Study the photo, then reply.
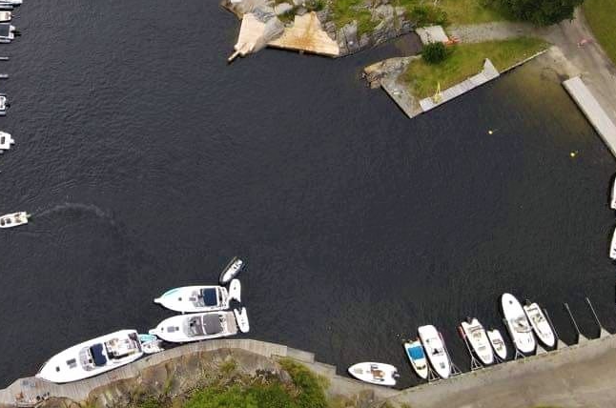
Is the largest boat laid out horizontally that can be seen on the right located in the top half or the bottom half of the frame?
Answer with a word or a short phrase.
bottom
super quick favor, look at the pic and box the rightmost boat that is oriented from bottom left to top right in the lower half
[221,255,246,283]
